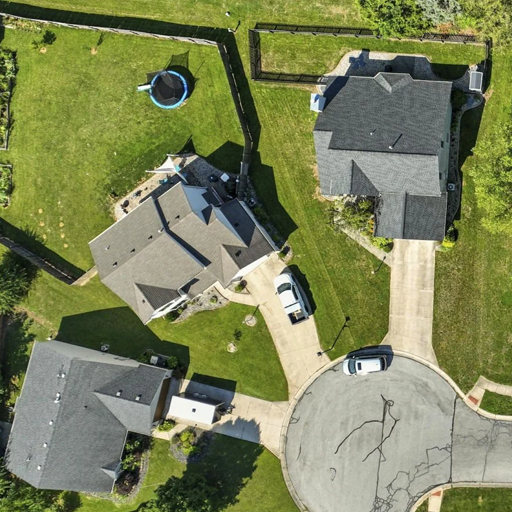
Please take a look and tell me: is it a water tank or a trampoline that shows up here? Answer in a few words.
trampoline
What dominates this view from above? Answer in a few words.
grass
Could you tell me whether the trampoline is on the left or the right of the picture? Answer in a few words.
left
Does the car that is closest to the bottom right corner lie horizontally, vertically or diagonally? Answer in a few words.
horizontally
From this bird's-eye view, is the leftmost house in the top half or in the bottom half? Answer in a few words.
bottom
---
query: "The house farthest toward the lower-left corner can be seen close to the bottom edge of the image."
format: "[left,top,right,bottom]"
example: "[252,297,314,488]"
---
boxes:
[1,339,177,493]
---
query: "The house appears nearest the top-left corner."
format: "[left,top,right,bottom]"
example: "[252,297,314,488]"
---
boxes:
[88,180,281,326]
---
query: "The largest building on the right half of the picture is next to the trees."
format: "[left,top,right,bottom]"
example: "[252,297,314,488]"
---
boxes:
[308,72,454,241]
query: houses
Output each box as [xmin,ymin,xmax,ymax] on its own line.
[88,180,281,326]
[308,72,454,241]
[1,339,177,493]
